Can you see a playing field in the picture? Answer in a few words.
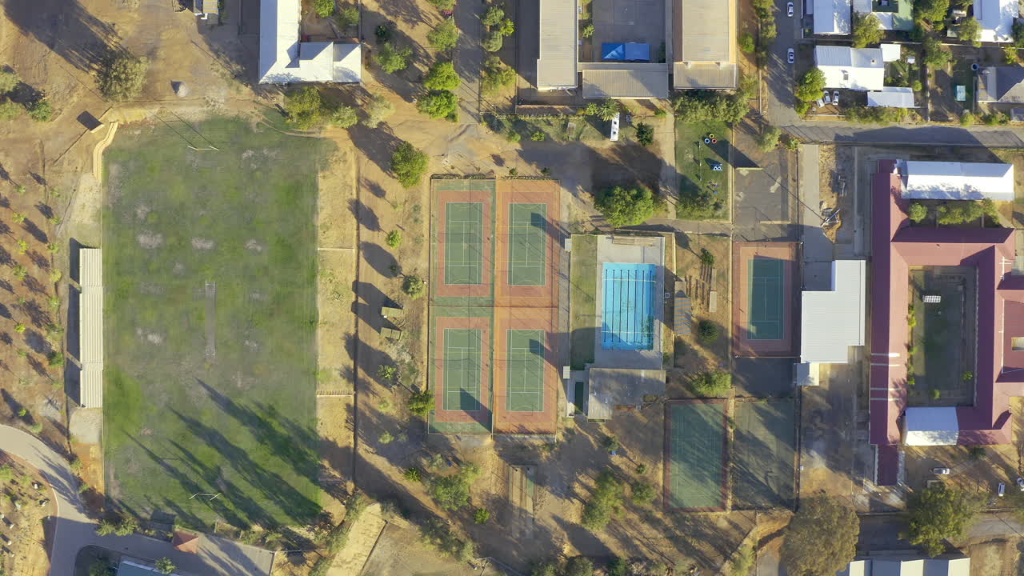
Yes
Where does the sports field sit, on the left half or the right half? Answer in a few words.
left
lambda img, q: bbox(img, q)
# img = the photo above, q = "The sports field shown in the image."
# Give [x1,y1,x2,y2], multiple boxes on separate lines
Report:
[98,114,326,535]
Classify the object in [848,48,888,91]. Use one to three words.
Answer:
house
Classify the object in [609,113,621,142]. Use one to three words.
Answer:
vehicle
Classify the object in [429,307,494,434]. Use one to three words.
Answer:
tennis court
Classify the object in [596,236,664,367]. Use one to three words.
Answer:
swimming pool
